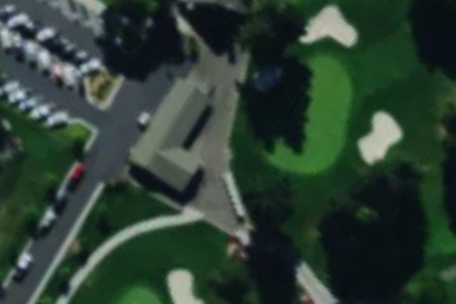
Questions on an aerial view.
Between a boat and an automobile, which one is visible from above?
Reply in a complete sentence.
Of the two, only an automobile appears.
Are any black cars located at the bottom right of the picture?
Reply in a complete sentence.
No, there is no black car at the bottom right of the picture.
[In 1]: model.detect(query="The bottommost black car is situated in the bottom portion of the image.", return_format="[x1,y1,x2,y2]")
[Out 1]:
[52,193,69,214]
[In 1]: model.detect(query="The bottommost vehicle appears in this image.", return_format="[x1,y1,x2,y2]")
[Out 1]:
[16,251,33,271]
